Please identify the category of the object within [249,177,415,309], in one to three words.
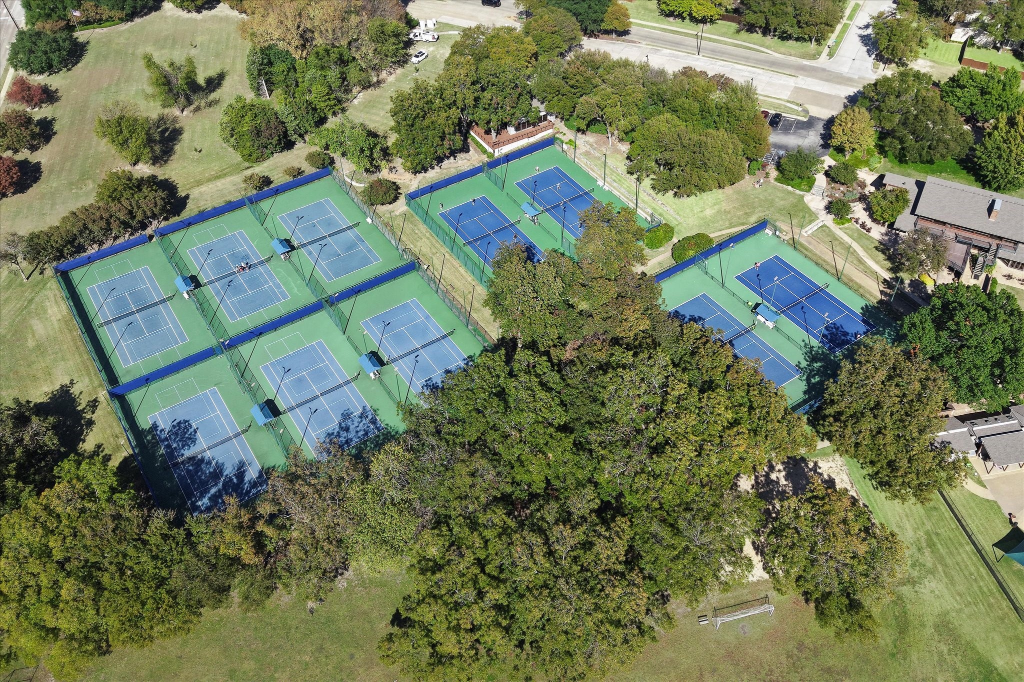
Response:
tennis court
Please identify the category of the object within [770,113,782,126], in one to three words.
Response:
vehicle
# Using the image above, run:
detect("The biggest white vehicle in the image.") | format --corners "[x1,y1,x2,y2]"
[411,29,436,42]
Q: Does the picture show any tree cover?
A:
Yes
